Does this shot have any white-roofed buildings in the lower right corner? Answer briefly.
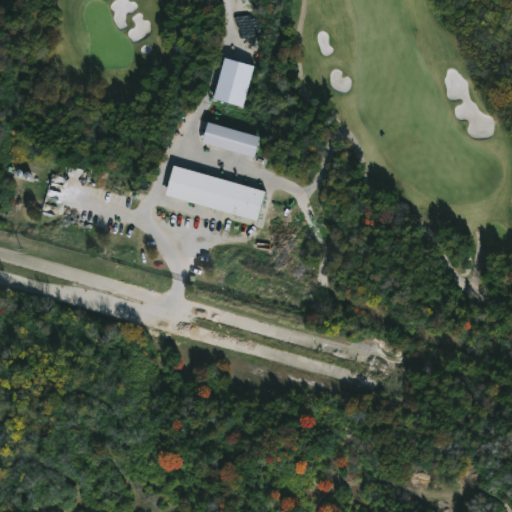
No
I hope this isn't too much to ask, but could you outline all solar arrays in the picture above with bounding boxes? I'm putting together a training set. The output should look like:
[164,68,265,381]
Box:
[235,14,256,39]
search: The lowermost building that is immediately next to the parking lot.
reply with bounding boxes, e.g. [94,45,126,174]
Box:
[166,165,266,221]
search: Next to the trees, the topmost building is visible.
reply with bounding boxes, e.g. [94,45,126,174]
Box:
[213,57,255,108]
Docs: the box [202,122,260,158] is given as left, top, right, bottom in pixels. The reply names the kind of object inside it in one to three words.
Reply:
building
